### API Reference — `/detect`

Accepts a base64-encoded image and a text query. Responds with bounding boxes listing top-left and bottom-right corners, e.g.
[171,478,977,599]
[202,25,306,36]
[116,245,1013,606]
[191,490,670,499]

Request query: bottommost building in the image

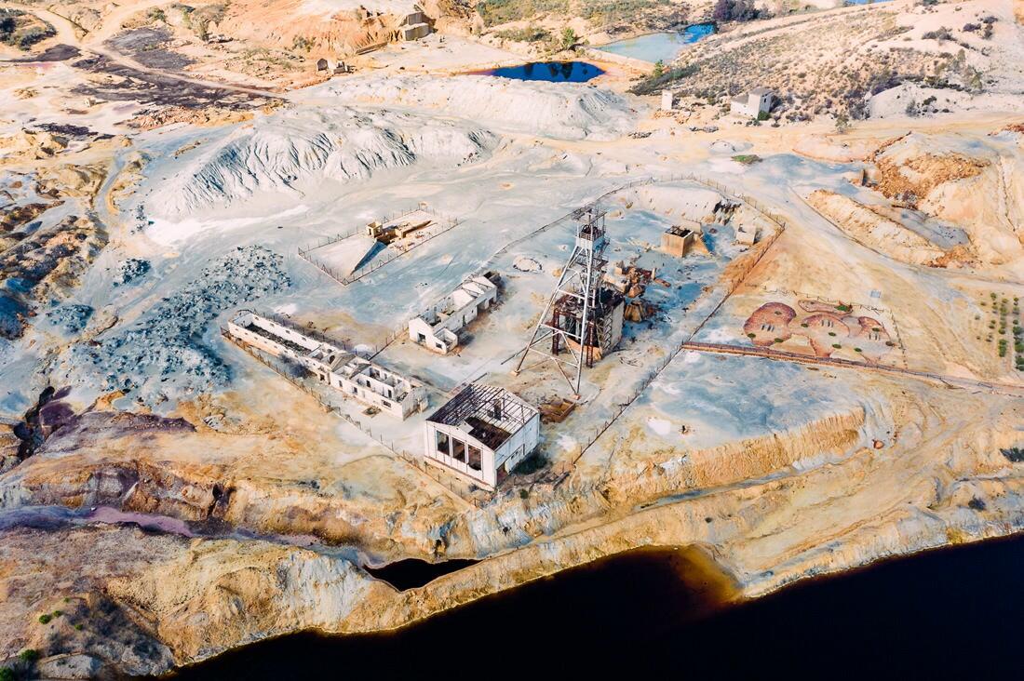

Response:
[422,380,539,491]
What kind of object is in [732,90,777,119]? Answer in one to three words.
house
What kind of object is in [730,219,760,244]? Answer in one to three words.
house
